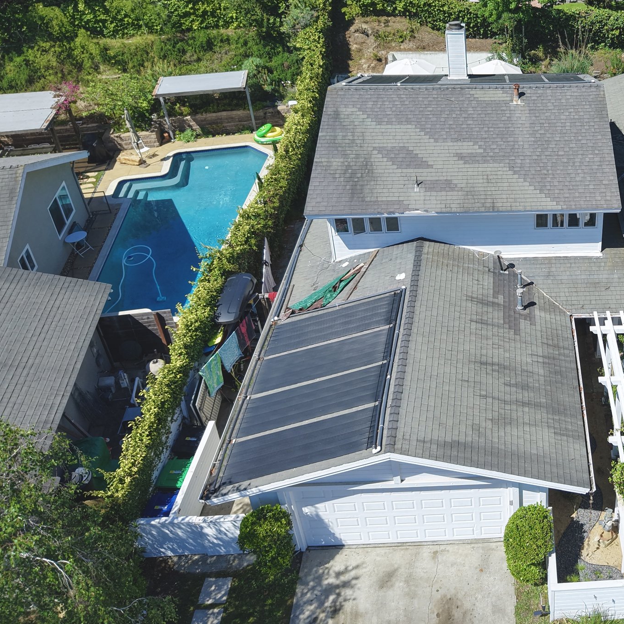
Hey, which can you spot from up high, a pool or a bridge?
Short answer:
pool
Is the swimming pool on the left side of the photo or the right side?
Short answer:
left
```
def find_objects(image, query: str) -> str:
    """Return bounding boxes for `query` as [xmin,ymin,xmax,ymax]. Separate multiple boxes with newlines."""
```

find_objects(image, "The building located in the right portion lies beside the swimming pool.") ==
[192,17,624,557]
